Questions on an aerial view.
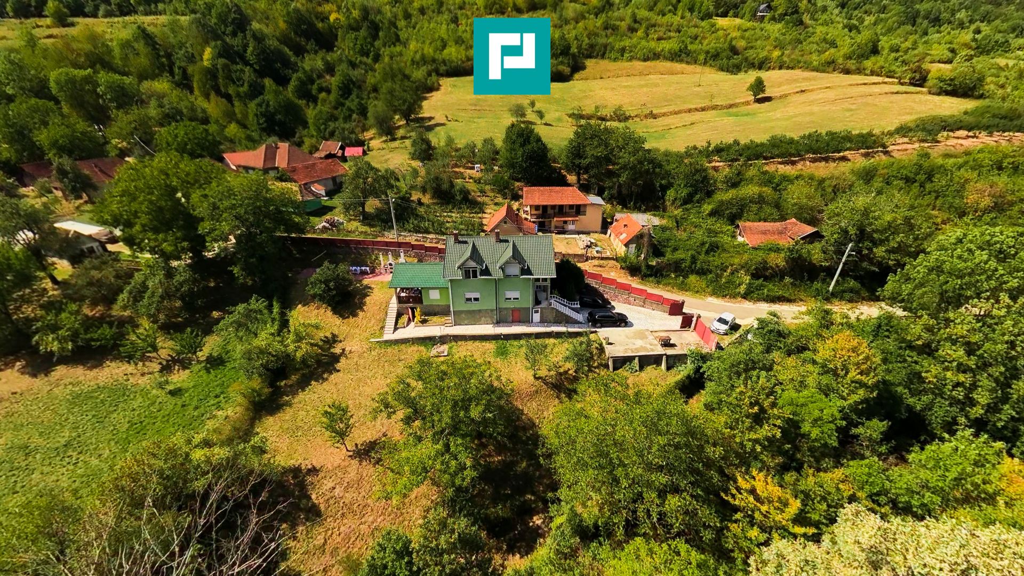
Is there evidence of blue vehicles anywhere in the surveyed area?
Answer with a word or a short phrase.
No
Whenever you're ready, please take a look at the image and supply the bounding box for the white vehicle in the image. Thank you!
[710,308,733,334]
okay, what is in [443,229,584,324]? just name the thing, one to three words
building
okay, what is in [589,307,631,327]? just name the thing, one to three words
car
